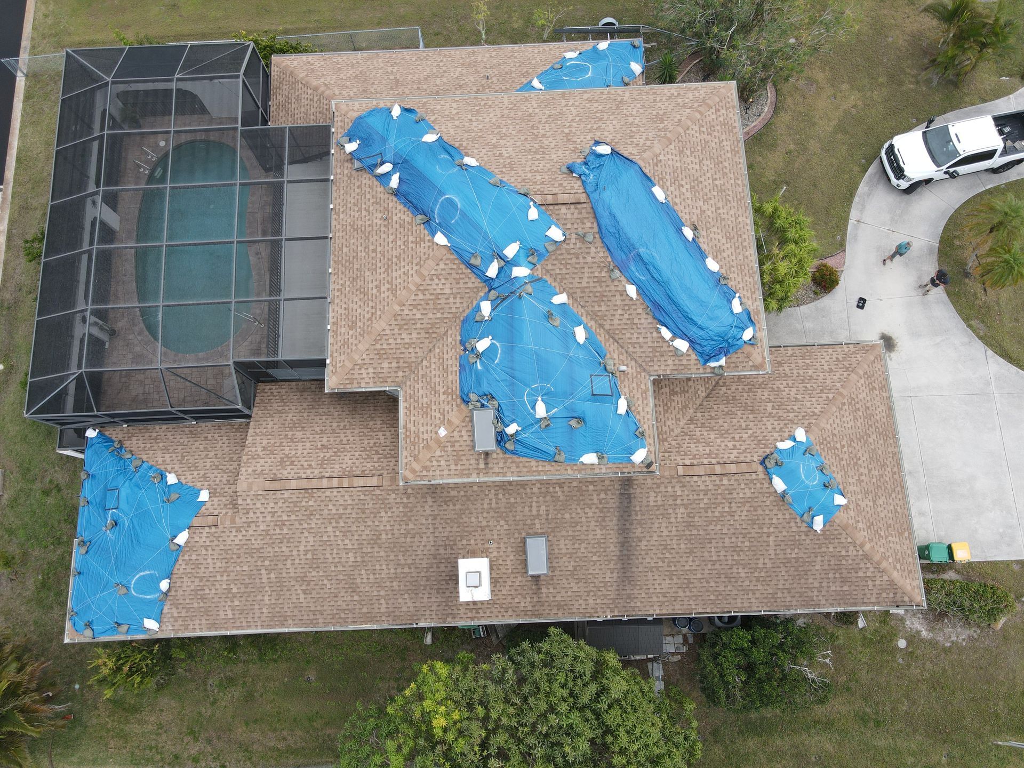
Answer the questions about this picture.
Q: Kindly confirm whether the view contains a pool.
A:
Yes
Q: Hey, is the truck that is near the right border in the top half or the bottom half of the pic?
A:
top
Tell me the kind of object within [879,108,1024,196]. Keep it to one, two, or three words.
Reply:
truck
